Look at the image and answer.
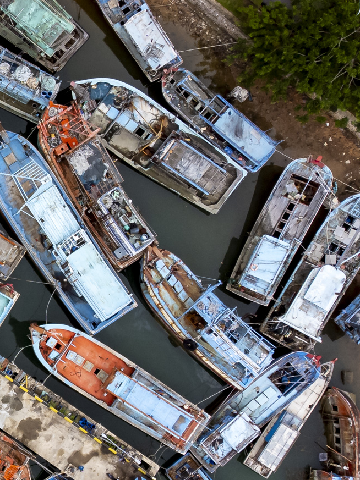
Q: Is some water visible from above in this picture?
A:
Yes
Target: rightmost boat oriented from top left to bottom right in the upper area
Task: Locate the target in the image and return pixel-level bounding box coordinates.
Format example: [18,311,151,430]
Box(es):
[161,66,284,173]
